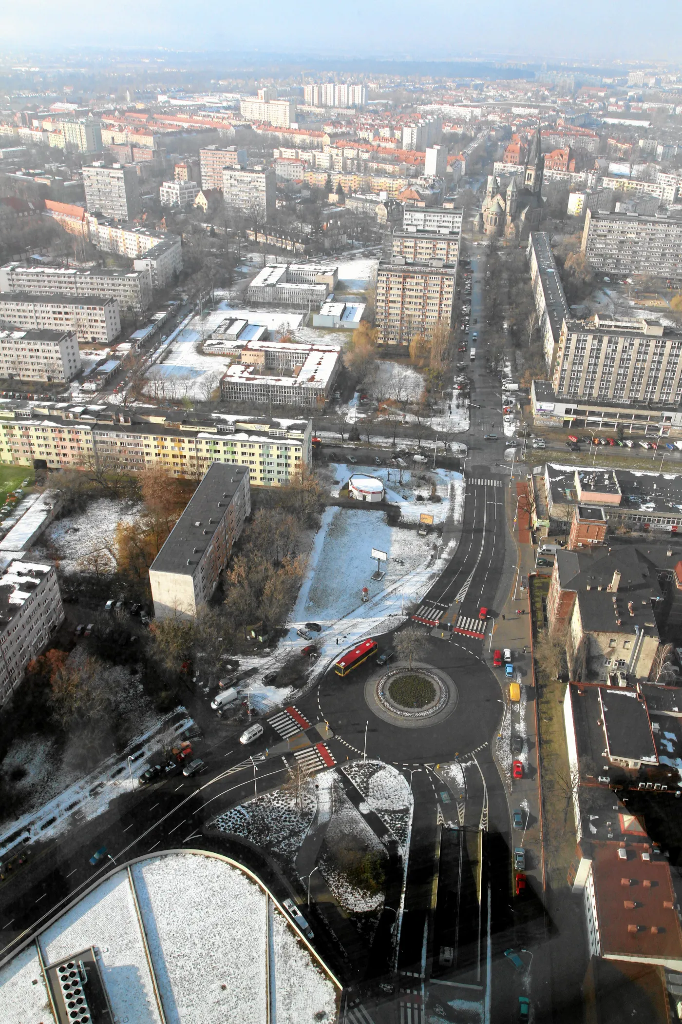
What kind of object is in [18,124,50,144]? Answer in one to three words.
house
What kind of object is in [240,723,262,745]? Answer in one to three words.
vehicle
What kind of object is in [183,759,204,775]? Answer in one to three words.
car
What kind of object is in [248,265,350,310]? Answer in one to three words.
building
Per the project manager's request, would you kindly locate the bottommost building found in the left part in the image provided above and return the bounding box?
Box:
[0,849,343,1024]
